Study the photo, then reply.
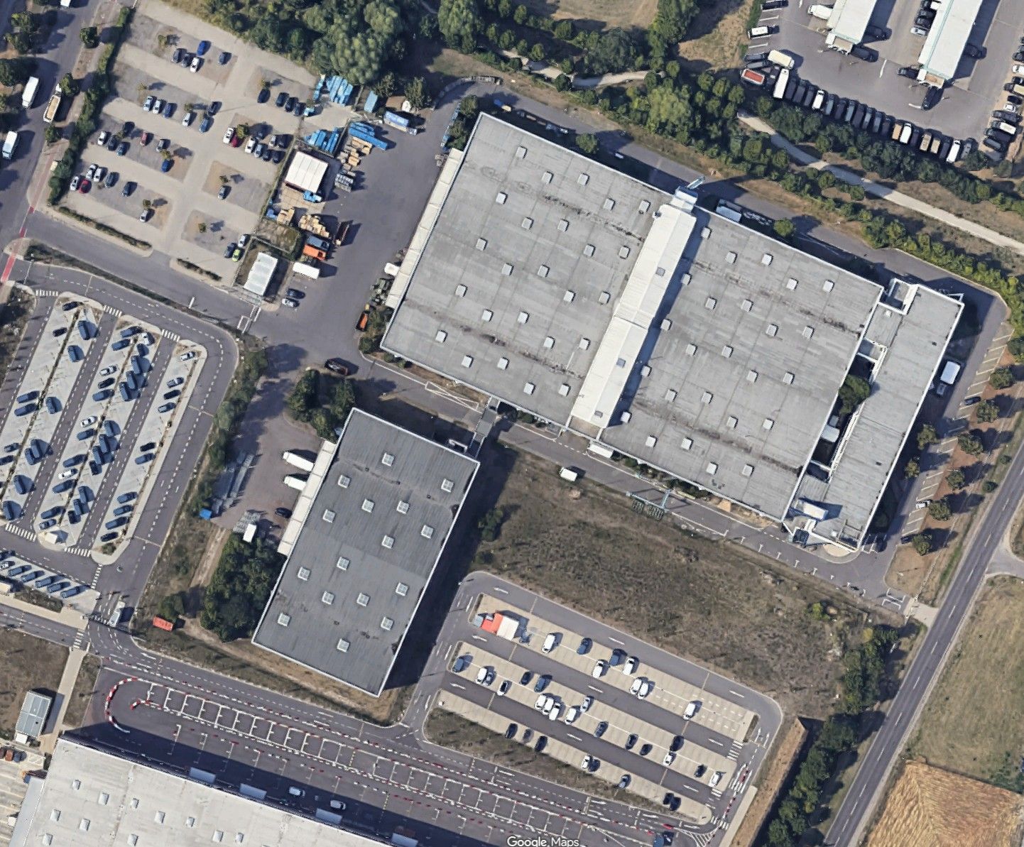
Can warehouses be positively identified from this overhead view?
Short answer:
Yes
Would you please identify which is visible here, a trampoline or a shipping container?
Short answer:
shipping container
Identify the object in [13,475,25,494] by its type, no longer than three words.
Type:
vehicle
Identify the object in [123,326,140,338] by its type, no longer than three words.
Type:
vehicle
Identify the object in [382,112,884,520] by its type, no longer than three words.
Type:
warehouse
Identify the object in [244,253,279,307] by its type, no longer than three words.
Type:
building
